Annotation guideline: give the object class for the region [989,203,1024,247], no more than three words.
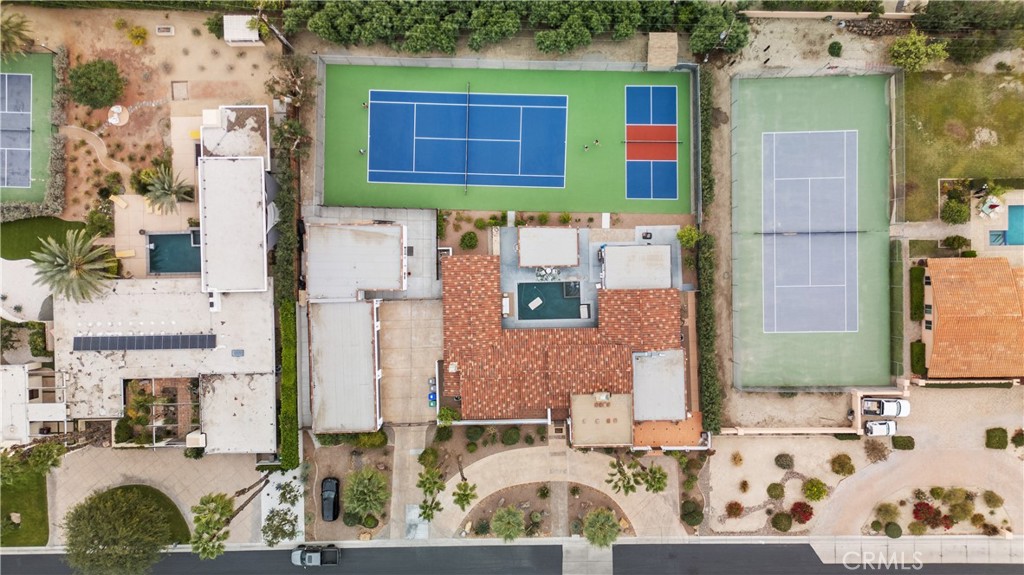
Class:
swimming pool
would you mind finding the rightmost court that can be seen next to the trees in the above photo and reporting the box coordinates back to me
[733,74,891,387]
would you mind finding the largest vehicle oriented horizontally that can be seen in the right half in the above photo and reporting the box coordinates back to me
[863,398,910,419]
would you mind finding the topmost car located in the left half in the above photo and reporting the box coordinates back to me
[319,477,341,521]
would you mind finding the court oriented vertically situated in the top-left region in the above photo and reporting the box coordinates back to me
[0,54,52,205]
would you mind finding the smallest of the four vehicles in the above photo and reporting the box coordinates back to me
[864,420,896,438]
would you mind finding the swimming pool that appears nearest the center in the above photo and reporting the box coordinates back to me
[515,279,583,322]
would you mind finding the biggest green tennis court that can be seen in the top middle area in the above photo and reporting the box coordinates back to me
[323,65,626,213]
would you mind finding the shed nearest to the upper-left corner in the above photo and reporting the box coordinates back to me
[223,15,264,47]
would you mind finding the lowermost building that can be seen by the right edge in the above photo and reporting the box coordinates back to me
[921,258,1024,378]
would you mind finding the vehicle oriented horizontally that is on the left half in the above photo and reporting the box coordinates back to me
[292,545,342,569]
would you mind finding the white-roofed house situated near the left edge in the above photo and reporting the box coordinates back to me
[0,106,279,453]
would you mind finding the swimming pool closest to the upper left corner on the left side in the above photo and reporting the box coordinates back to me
[145,229,201,276]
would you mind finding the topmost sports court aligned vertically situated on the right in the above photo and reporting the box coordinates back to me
[626,70,692,214]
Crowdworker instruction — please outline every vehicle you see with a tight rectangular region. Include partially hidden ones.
[863,398,910,419]
[319,477,341,521]
[864,420,896,438]
[292,545,342,569]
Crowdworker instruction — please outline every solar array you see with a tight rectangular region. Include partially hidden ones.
[74,335,216,350]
